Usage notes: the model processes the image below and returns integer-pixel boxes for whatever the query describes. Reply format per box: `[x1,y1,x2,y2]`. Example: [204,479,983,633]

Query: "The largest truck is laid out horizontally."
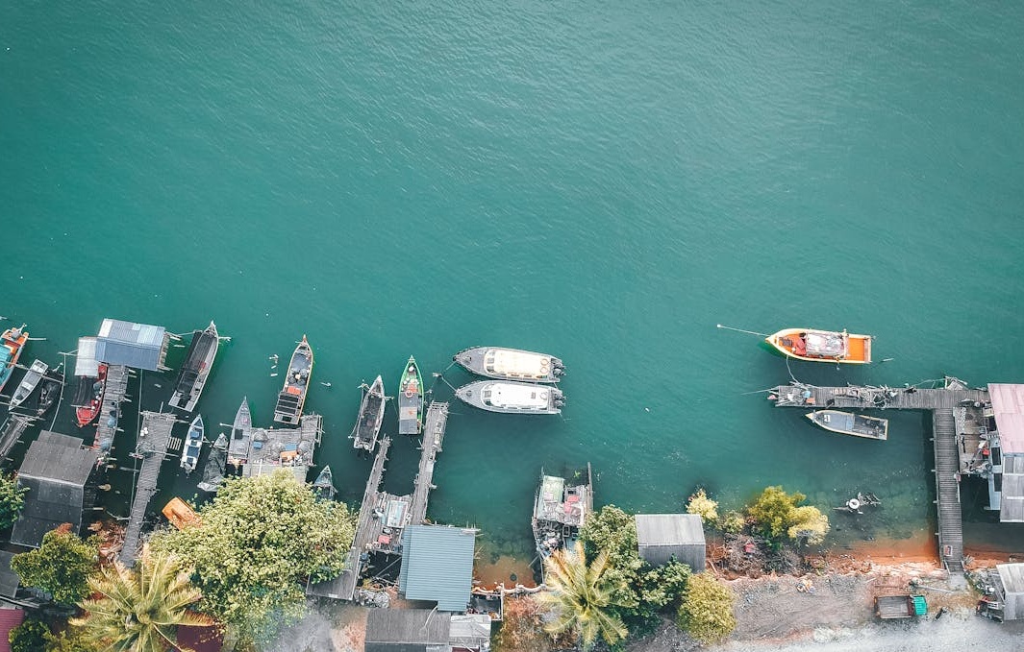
[872,592,933,622]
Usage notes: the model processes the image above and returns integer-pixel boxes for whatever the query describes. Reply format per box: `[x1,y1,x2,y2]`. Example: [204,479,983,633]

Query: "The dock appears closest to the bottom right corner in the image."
[775,380,989,566]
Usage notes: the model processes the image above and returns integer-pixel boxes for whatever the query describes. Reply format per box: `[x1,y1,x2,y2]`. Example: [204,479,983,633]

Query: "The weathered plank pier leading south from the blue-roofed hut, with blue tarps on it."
[95,365,136,457]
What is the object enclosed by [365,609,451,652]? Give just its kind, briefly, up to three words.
house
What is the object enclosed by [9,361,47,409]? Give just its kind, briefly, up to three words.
boat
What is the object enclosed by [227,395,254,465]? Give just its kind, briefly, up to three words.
boat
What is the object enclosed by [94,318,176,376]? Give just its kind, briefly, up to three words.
shed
